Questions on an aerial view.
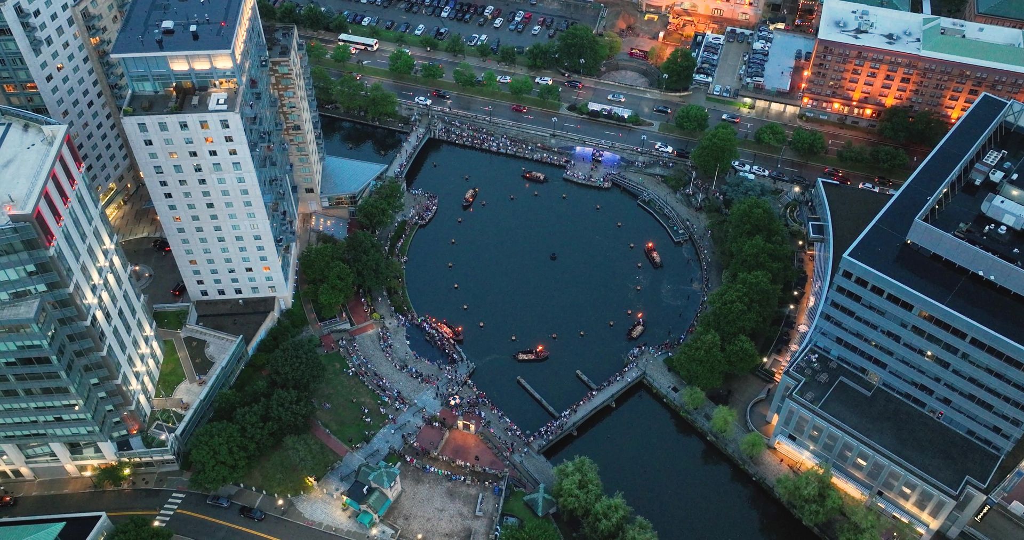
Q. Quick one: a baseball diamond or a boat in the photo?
boat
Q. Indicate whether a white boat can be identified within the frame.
No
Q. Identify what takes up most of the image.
buildings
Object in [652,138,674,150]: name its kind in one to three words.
vehicle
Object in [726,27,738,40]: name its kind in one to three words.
vehicle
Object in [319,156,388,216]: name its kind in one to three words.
building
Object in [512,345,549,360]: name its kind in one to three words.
boat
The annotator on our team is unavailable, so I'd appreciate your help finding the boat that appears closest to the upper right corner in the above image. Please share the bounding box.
[646,240,665,268]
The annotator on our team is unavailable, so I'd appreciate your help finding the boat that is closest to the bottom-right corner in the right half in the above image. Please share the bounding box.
[626,312,646,340]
